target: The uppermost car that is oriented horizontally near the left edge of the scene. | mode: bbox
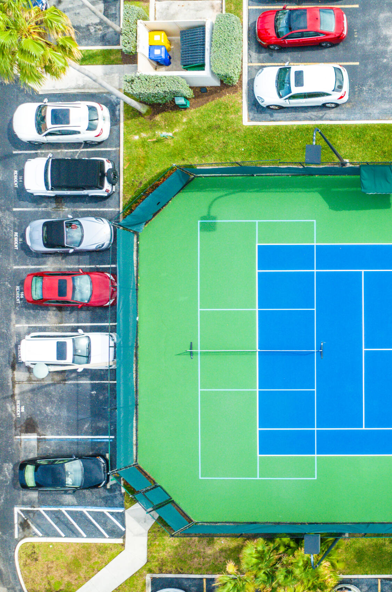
[12,97,113,145]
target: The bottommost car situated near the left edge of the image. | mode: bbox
[15,451,113,495]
